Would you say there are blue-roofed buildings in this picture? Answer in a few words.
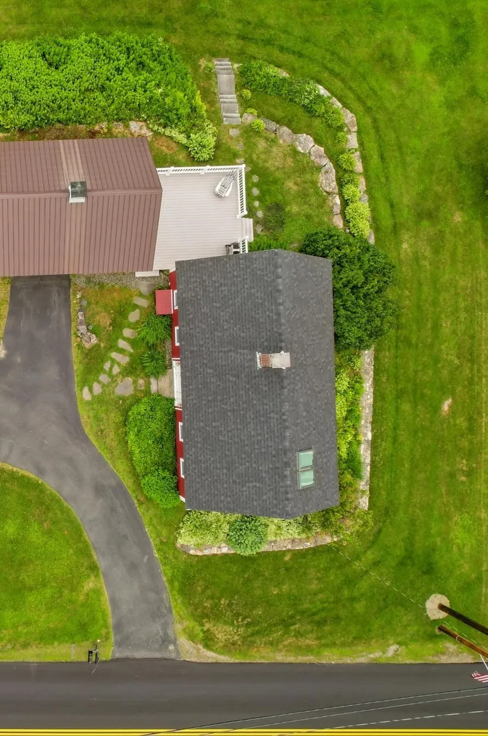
No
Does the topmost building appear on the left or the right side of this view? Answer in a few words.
left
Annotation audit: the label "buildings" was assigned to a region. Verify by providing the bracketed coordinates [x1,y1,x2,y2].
[168,249,339,519]
[0,135,166,276]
